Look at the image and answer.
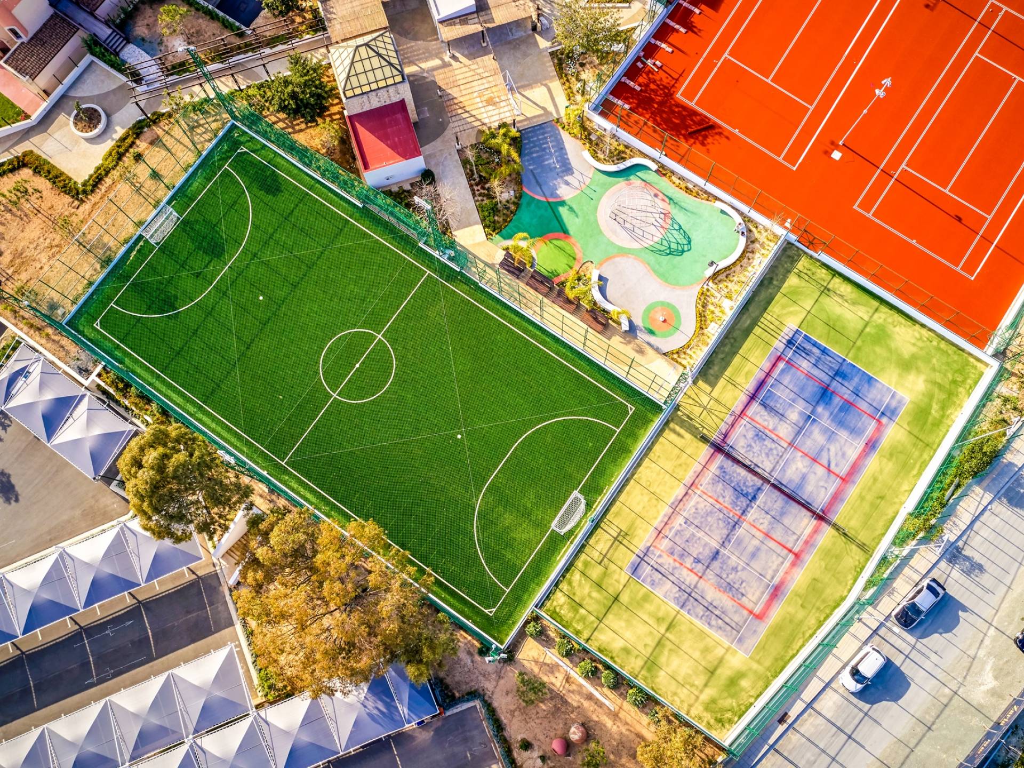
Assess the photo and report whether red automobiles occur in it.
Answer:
No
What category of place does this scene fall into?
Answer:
sports ground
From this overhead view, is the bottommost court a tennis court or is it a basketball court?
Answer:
tennis court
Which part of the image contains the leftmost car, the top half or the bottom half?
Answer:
bottom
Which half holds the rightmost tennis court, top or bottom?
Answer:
top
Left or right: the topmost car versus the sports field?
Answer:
right of it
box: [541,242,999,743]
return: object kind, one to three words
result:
tennis court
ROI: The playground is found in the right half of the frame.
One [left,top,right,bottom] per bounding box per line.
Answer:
[491,120,739,353]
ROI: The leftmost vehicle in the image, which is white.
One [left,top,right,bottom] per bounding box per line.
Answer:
[836,640,890,694]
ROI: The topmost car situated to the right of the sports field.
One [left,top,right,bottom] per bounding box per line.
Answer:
[889,576,950,629]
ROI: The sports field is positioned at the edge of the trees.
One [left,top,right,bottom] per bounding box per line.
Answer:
[62,122,666,649]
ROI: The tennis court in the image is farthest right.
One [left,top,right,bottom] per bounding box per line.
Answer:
[791,0,1024,354]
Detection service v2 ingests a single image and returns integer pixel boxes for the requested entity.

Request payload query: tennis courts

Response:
[593,0,947,234]
[791,0,1024,354]
[541,242,999,743]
